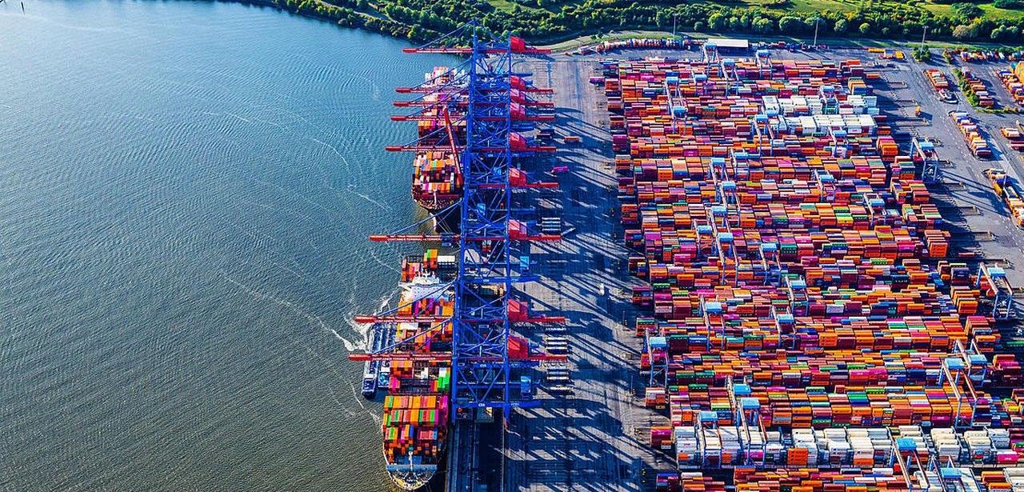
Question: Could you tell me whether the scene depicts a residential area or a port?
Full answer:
This looks like a port.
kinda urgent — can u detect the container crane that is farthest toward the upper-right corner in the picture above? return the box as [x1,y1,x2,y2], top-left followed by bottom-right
[907,138,938,182]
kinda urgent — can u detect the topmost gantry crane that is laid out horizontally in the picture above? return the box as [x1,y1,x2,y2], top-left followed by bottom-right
[402,18,551,87]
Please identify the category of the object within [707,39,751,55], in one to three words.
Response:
shed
